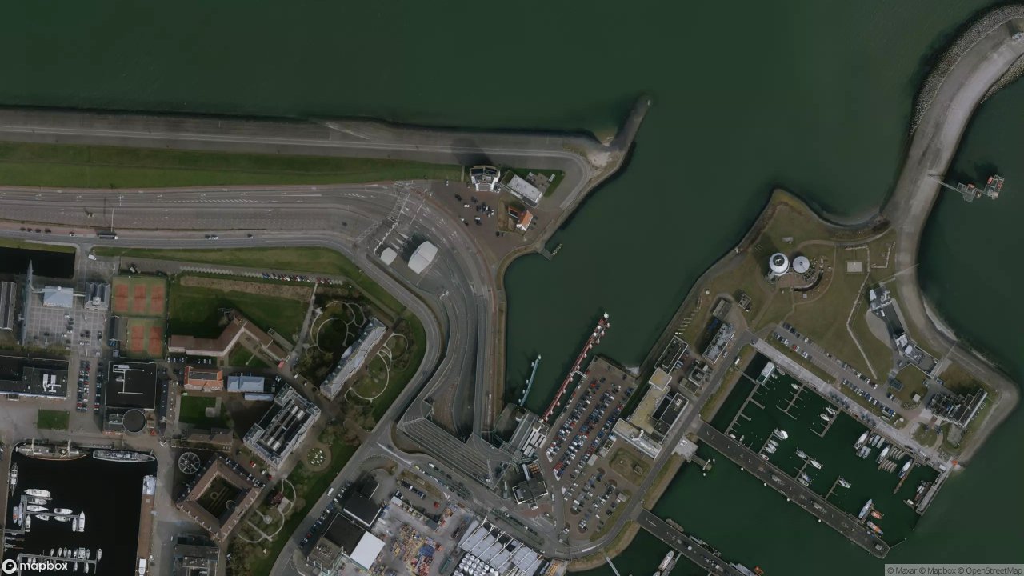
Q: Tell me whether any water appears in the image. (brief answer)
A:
Yes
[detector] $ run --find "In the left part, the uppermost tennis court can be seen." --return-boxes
[111,276,168,317]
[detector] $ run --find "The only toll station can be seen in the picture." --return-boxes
[375,195,425,250]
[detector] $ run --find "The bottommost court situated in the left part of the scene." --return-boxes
[125,318,166,358]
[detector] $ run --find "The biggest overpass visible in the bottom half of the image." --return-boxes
[397,297,518,489]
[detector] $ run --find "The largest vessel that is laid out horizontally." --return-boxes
[17,443,88,460]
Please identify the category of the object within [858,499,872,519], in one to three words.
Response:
ship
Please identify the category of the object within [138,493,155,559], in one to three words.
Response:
pier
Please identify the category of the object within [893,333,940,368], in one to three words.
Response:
building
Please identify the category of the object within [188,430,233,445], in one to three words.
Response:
house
